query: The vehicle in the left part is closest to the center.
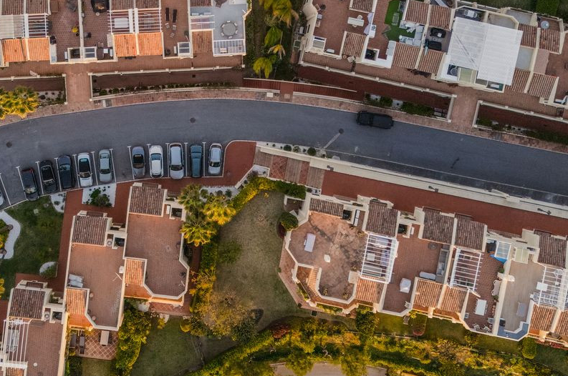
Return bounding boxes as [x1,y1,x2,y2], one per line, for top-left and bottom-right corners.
[207,143,224,176]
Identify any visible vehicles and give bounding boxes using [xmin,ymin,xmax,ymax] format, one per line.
[77,153,94,186]
[56,154,74,190]
[97,150,114,183]
[38,158,57,193]
[131,145,146,177]
[189,144,205,177]
[169,143,184,180]
[148,144,164,176]
[356,110,394,128]
[207,143,224,176]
